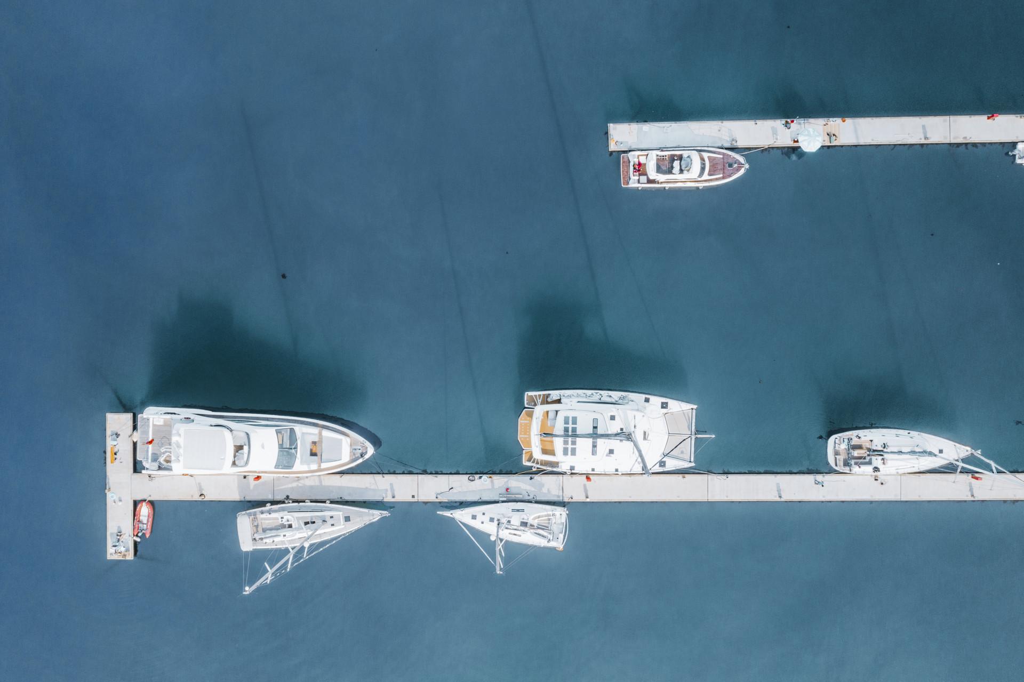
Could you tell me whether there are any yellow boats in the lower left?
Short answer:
No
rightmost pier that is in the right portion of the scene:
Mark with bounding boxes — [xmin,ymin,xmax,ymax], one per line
[608,114,1024,152]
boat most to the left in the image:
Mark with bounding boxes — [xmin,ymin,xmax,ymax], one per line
[134,500,154,537]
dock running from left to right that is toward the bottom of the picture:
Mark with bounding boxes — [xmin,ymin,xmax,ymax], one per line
[132,473,1024,501]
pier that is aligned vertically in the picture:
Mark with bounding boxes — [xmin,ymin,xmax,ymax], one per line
[107,412,134,559]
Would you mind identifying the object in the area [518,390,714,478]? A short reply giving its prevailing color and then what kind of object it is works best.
white boat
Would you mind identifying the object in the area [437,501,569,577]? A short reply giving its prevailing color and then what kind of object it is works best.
white boat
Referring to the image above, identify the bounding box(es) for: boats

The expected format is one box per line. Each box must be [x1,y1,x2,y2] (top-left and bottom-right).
[518,390,714,478]
[234,502,391,599]
[137,405,383,477]
[1006,142,1024,164]
[134,500,154,537]
[621,147,752,189]
[821,427,1024,496]
[437,501,569,577]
